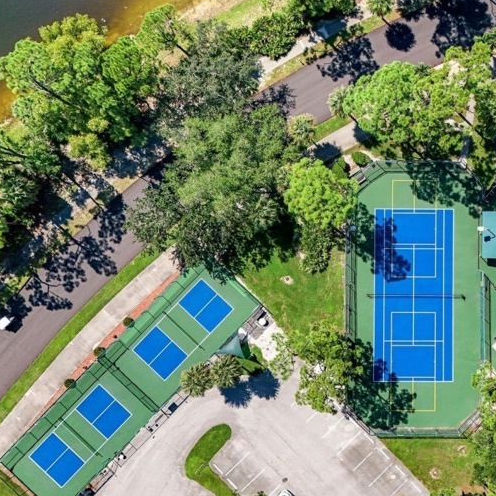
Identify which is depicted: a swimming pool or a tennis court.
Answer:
tennis court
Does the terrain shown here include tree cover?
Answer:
Yes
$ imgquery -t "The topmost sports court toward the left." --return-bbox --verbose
[104,253,259,409]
